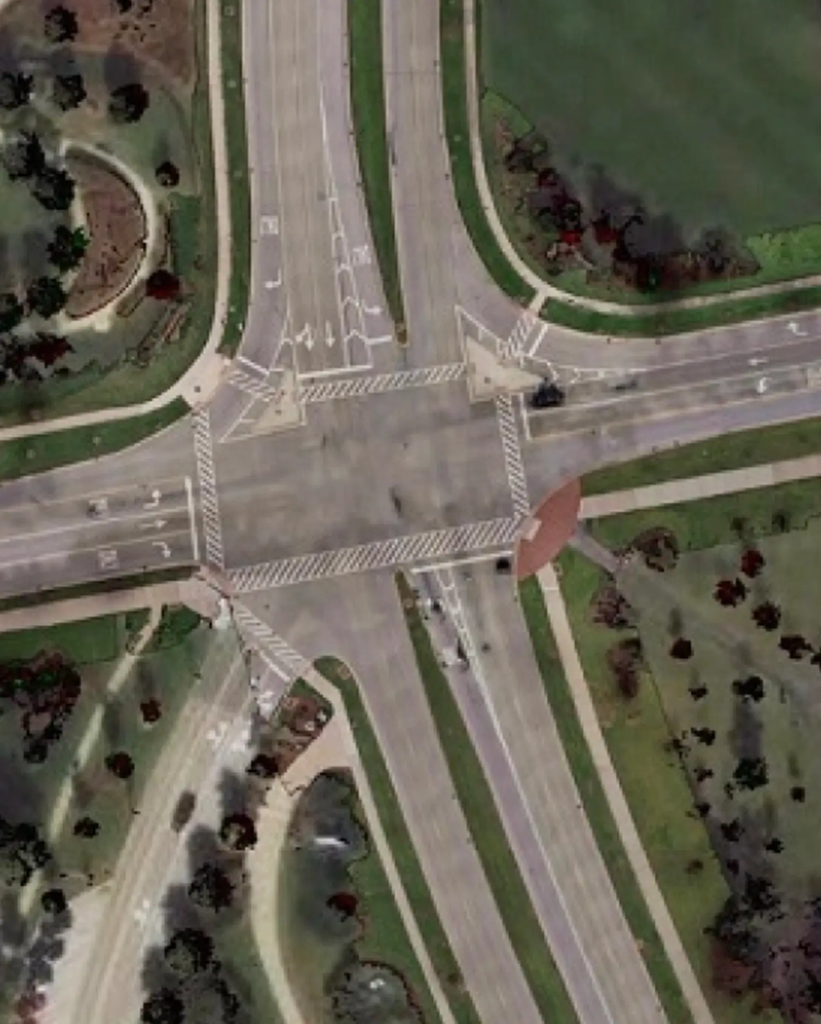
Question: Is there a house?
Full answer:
No, the frame has no house in it.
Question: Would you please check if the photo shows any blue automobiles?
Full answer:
No, the scene contains no blue automobile.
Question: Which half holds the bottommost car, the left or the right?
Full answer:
The bottommost car is on the left side of the image.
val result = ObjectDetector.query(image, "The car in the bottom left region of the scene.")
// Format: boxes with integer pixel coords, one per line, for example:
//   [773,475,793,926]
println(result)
[168,790,198,833]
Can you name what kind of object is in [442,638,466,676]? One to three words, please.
car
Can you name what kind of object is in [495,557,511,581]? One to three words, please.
car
